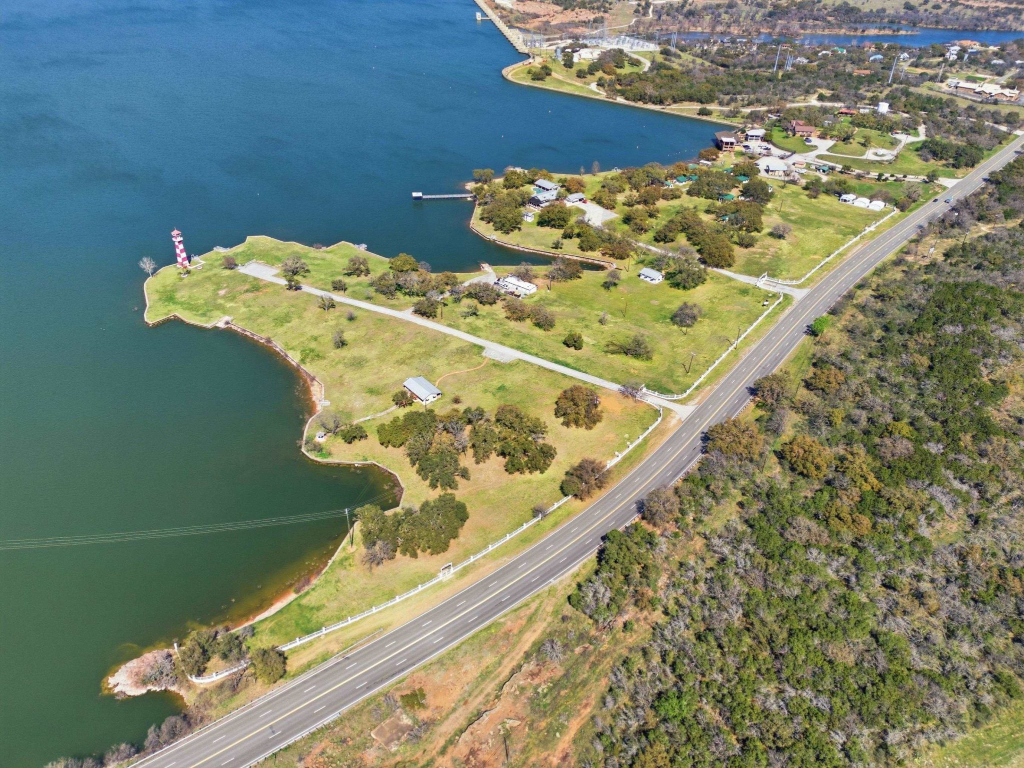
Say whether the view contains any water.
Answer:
Yes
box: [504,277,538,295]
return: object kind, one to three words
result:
shed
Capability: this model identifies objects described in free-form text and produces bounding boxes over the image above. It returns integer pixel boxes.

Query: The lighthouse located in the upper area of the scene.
[170,229,190,268]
